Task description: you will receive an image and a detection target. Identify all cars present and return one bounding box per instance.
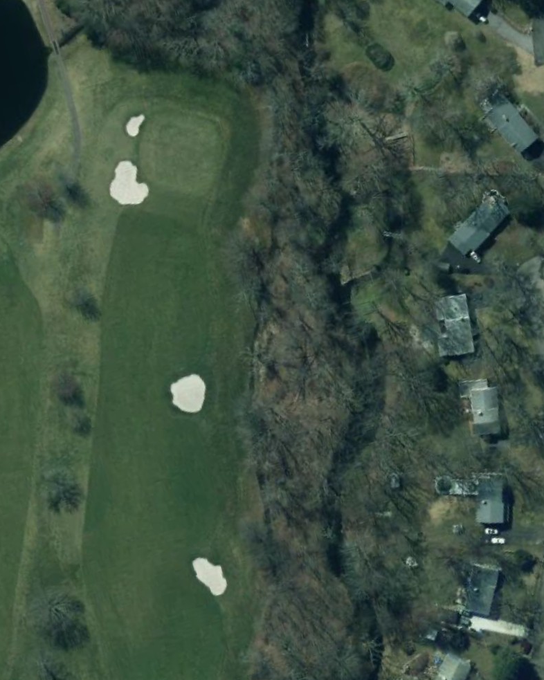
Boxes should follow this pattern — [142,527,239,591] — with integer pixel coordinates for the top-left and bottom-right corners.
[470,251,481,263]
[486,529,497,534]
[491,537,504,544]
[477,14,488,24]
[522,640,532,653]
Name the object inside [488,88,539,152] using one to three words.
house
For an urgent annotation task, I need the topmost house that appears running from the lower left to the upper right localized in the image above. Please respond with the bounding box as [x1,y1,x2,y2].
[450,199,512,256]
